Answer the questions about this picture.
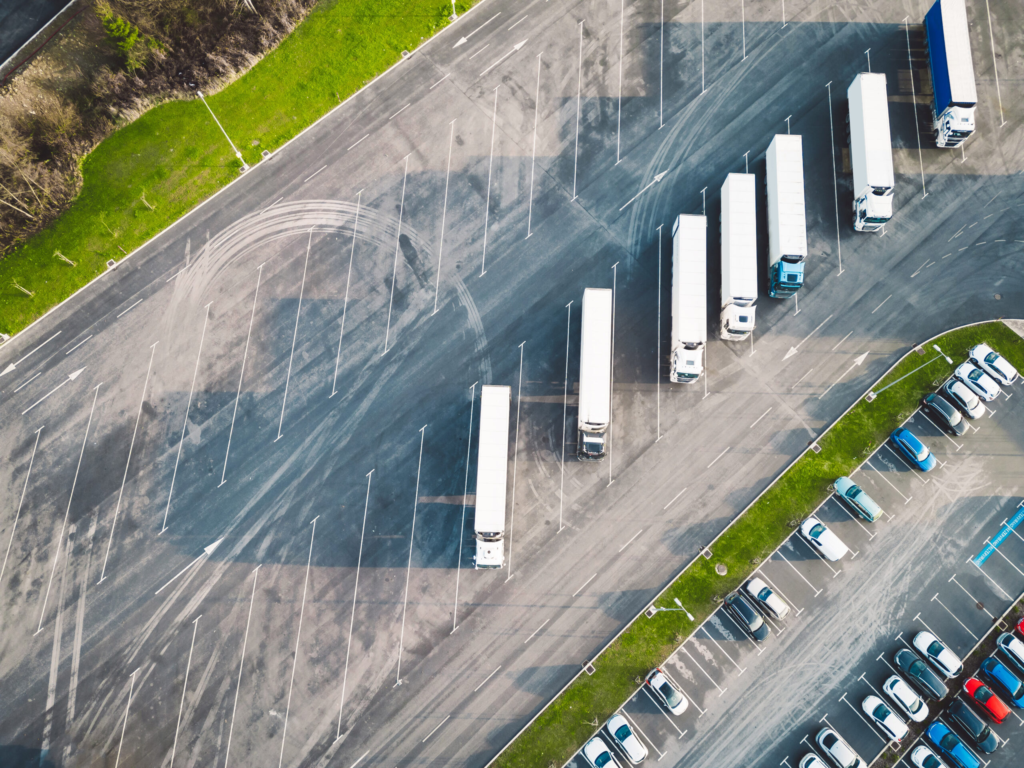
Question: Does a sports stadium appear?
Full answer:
No, no sports stadium is visible in the scene.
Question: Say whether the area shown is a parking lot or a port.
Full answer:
This looks like a parking lot.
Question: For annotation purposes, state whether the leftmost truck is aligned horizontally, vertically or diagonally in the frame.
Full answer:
In this picture, the leftmost truck lies vertically.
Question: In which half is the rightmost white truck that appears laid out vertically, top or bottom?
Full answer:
The rightmost white truck that appears laid out vertically sits in the top half of the picture.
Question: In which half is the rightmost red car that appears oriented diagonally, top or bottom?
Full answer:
The bottom half of the photo is where the rightmost red car that appears oriented diagonally is.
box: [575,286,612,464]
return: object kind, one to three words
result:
truck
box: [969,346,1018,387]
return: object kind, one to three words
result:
car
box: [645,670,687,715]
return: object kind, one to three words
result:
car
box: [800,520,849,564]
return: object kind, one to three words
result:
vehicle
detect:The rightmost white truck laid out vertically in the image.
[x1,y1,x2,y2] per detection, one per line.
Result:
[923,0,978,148]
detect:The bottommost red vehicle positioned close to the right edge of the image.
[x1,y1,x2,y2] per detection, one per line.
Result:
[963,679,1012,725]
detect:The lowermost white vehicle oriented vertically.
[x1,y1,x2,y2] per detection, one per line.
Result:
[471,383,511,570]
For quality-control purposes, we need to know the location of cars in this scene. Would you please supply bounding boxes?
[645,670,687,715]
[746,577,791,622]
[929,722,983,768]
[861,695,910,744]
[894,649,949,702]
[954,364,1000,403]
[913,632,964,679]
[888,428,935,472]
[944,698,998,753]
[941,381,984,419]
[977,658,1024,708]
[969,346,1018,387]
[911,747,947,768]
[722,592,769,641]
[814,726,864,768]
[796,752,826,768]
[963,679,1012,725]
[584,738,624,768]
[920,392,967,435]
[1013,621,1024,644]
[833,477,882,523]
[606,714,650,765]
[993,632,1024,678]
[881,675,927,722]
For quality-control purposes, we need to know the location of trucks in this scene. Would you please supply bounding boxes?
[719,173,757,340]
[575,286,612,464]
[764,134,808,298]
[846,72,894,230]
[923,0,978,148]
[670,213,707,384]
[471,383,511,570]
